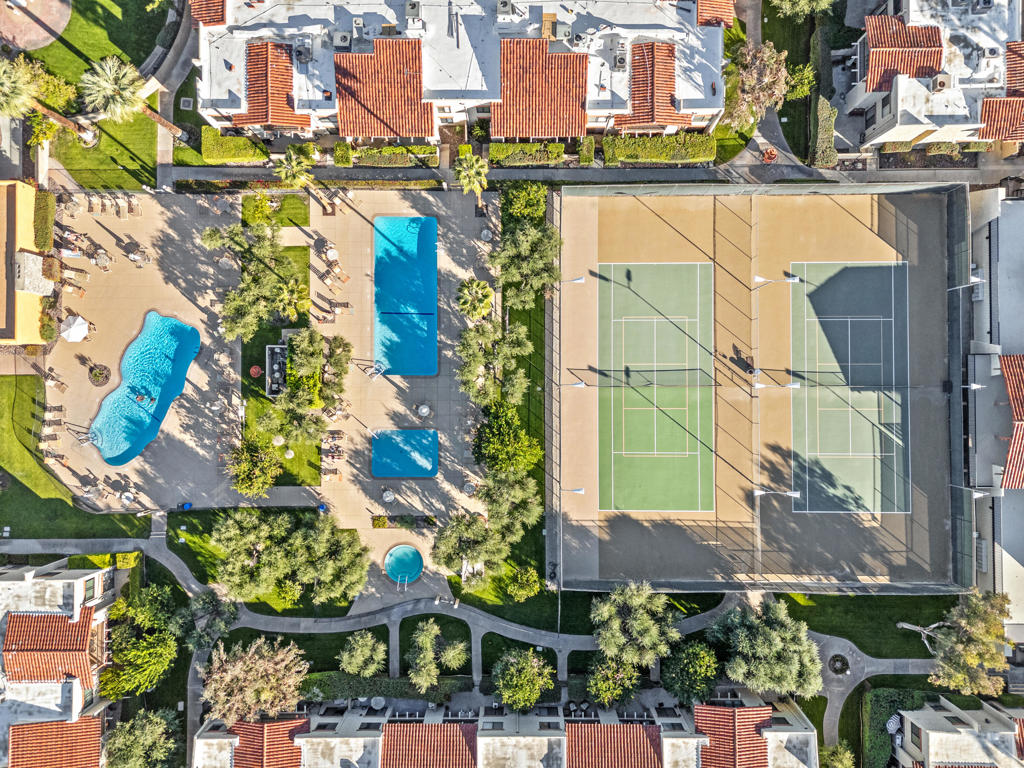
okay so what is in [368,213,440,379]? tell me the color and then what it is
blue swimming pool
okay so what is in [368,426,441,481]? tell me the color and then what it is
blue swimming pool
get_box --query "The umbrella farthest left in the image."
[61,314,92,343]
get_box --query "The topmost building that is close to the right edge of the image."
[835,0,1024,156]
